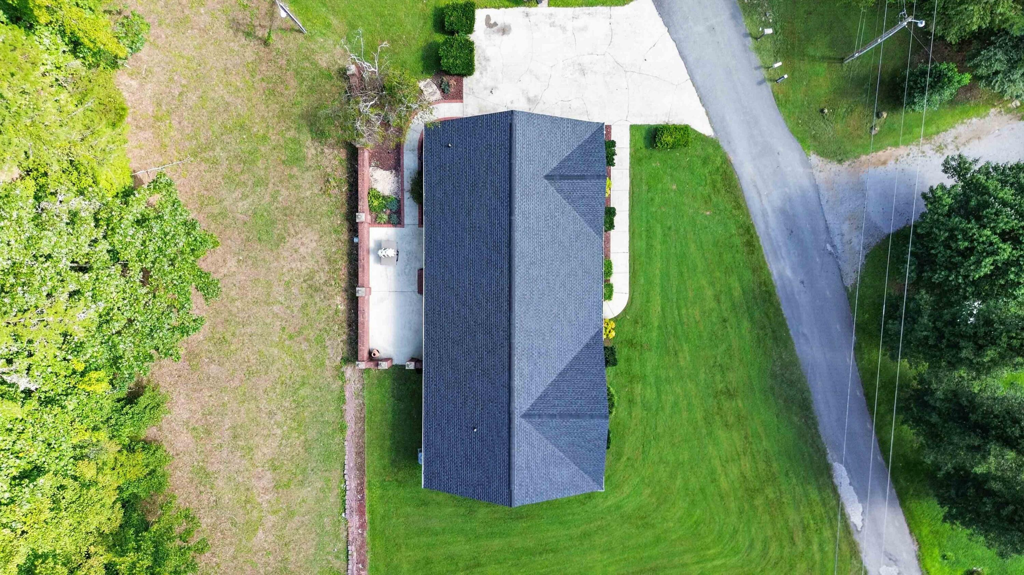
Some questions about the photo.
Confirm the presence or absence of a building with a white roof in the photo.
No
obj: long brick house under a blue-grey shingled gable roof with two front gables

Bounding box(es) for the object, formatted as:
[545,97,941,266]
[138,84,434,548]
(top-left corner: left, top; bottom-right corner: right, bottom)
[421,110,609,507]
